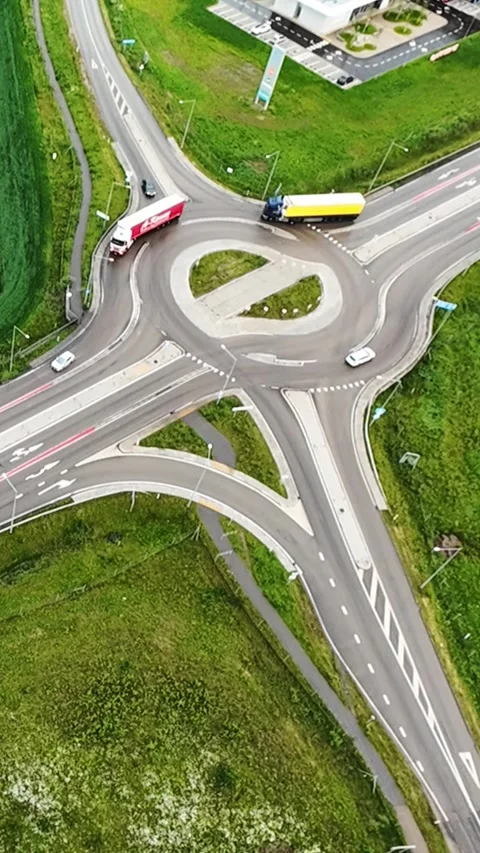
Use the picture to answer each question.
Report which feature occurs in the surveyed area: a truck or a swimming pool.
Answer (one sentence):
Of the two, only a truck appears.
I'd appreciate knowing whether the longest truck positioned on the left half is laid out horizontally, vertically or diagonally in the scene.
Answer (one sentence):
In this picture, the longest truck positioned on the left half lies diagonally.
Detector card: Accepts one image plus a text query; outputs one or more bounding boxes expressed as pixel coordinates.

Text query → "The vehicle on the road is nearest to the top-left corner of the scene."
[141,178,157,196]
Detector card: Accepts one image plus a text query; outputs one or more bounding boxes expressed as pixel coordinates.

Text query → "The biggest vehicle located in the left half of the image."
[108,193,188,259]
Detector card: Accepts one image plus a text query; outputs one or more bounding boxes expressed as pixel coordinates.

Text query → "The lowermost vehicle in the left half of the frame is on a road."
[48,349,78,372]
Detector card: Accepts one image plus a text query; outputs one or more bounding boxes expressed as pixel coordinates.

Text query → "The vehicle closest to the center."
[344,346,378,363]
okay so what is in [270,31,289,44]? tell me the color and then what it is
white vehicle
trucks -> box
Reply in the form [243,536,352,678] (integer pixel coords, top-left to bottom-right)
[258,192,368,227]
[108,193,188,259]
